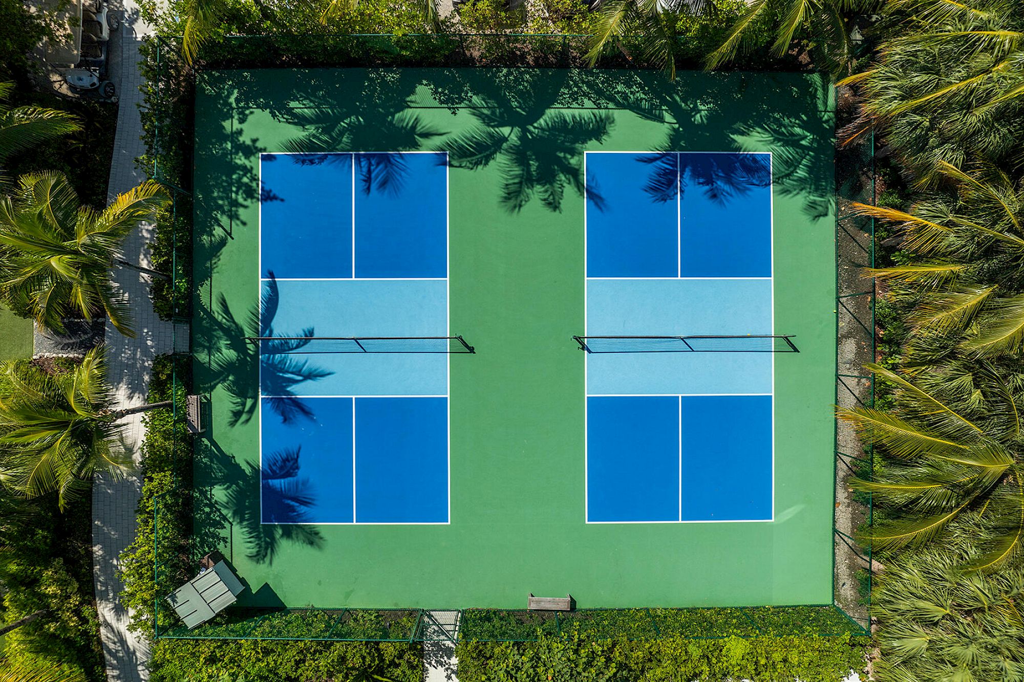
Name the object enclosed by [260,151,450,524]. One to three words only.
sports court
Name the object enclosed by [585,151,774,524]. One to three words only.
sports court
